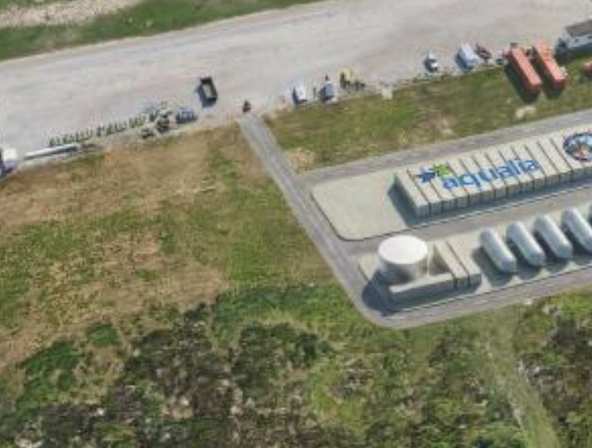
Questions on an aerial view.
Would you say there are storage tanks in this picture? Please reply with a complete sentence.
Yes, a storage tank appears in the view.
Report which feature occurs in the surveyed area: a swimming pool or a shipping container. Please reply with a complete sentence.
Visible in the photo is a shipping container.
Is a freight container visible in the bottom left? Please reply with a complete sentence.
No, there's no freight container to be seen in the bottom left.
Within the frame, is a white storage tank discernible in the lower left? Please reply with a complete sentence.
No, I see no white storage tank in the lower left.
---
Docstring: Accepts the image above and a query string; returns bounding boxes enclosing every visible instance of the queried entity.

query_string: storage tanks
[563,205,592,251]
[534,212,574,265]
[507,220,546,274]
[377,233,429,286]
[479,228,518,281]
